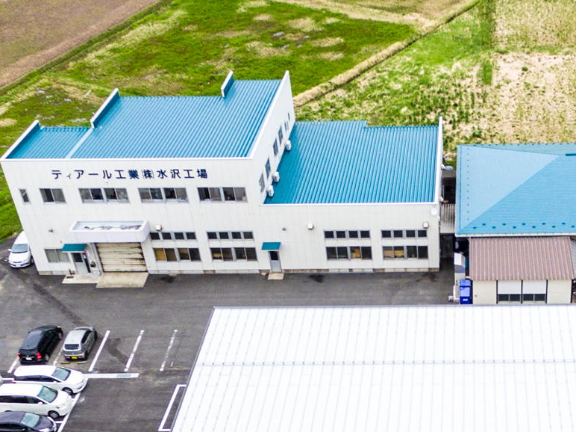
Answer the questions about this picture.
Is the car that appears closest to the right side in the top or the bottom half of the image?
bottom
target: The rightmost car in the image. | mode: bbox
[62,322,99,357]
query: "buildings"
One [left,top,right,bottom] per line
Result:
[2,72,444,273]
[456,144,576,263]
[166,304,576,432]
